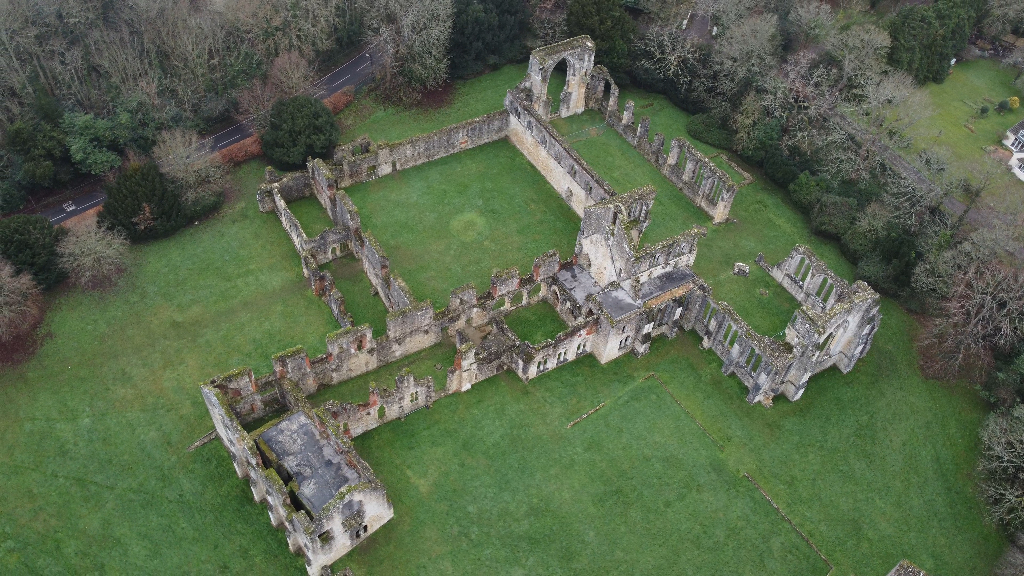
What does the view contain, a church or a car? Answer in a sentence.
Visible in the photo is a church.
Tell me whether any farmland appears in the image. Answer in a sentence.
No, there is no farmland in the image.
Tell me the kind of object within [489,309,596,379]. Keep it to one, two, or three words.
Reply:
house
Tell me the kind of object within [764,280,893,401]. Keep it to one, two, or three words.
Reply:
church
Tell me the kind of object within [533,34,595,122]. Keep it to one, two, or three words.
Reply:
building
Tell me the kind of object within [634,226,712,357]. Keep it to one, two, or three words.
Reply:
building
